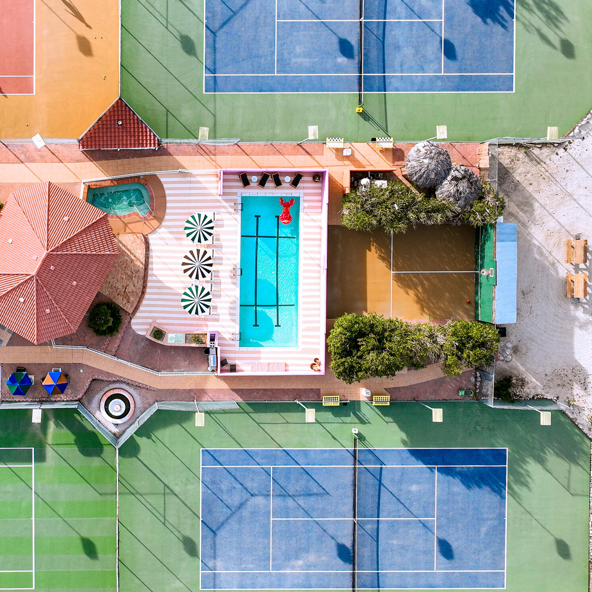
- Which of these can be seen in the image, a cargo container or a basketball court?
basketball court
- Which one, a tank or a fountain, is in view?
fountain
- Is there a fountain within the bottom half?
Yes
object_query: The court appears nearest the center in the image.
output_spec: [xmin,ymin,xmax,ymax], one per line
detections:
[331,224,477,320]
